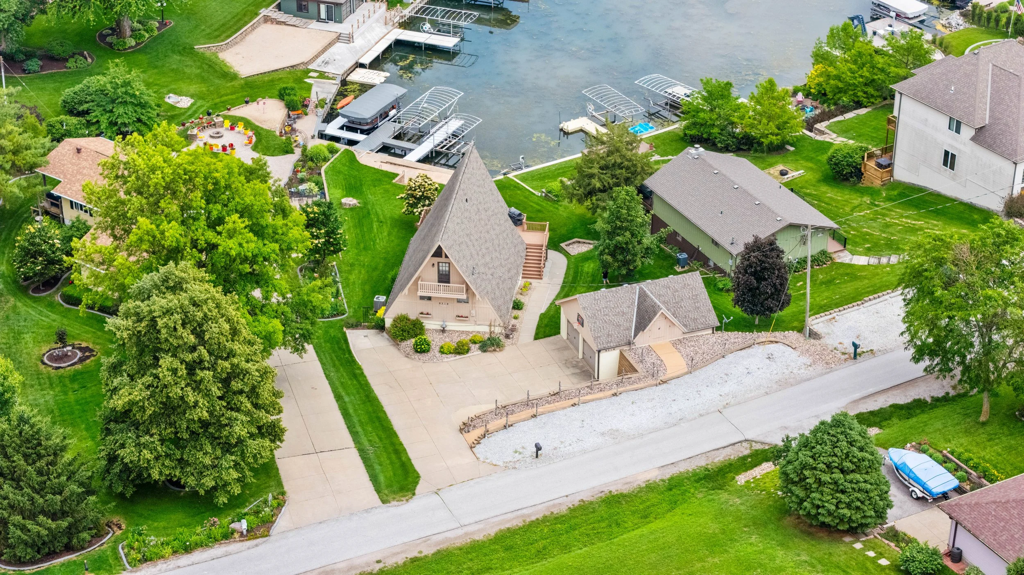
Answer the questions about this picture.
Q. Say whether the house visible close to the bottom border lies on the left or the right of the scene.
right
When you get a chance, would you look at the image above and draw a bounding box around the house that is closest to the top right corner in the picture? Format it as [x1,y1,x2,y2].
[887,28,1024,213]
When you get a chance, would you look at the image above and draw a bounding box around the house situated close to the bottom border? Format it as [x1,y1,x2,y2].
[934,471,1024,575]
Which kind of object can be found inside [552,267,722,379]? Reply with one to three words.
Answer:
building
